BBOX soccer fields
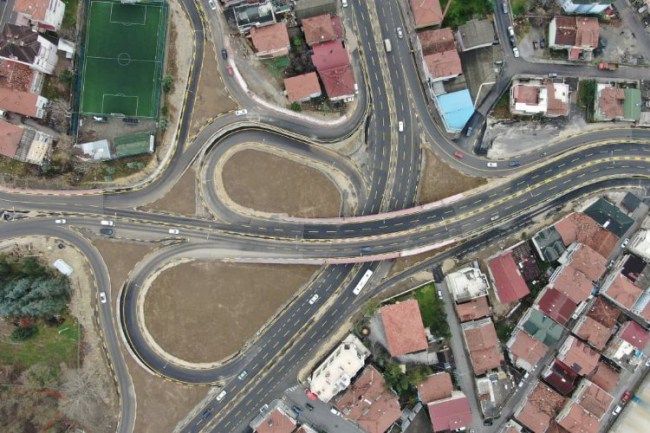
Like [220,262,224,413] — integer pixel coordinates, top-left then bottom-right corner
[79,0,162,121]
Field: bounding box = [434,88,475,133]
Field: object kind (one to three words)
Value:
building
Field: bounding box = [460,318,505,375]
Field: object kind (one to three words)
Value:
house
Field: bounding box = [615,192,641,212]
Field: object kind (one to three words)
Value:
house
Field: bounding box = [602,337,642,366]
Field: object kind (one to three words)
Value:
shed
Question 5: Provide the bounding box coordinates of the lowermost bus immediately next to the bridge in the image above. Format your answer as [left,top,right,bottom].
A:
[352,270,375,296]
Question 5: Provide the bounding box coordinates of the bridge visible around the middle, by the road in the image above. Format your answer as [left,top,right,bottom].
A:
[230,190,470,268]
